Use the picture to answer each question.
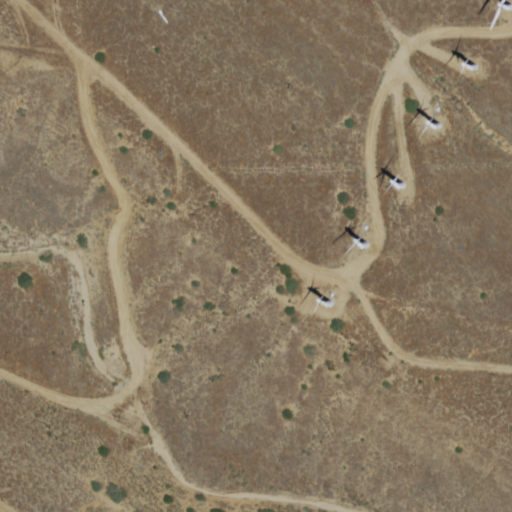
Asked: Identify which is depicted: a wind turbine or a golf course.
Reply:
wind turbine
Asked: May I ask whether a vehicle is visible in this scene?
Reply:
No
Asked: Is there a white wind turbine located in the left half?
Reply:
No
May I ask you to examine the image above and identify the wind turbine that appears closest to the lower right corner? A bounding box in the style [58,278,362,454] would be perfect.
[308,292,336,320]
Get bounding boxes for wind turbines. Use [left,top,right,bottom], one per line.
[491,0,512,28]
[382,164,409,191]
[454,55,480,83]
[308,292,336,320]
[417,112,445,141]
[342,232,372,258]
